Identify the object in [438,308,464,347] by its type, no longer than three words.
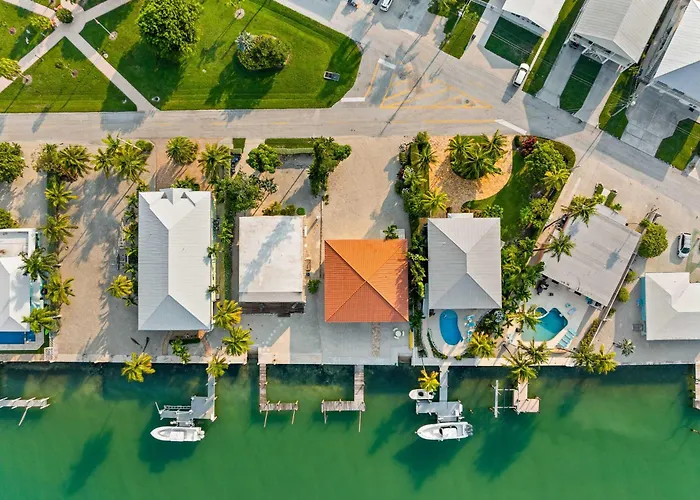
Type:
swimming pool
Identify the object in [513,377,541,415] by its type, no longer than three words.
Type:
pier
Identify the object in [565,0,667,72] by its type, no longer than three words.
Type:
house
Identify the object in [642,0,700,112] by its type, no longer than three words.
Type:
house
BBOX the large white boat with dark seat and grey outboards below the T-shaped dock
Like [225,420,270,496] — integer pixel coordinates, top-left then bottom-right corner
[416,424,470,442]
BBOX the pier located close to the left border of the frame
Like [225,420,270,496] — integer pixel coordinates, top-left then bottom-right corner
[0,398,50,425]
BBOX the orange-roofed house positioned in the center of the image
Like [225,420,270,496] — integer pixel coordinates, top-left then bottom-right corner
[323,239,409,324]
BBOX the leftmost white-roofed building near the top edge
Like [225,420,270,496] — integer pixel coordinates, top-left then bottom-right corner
[497,0,563,41]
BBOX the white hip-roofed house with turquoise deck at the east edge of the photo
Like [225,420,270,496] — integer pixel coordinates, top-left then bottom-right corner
[632,272,700,340]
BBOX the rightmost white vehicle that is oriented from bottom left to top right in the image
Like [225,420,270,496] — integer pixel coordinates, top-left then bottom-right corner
[511,64,531,87]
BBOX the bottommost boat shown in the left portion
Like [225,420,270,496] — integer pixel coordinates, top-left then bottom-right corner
[148,428,202,443]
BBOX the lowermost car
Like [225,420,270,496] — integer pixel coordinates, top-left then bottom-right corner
[676,232,693,257]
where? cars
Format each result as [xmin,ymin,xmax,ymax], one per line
[565,34,579,54]
[377,0,394,14]
[347,0,360,8]
[511,64,531,87]
[676,232,693,257]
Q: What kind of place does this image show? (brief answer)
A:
residential area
